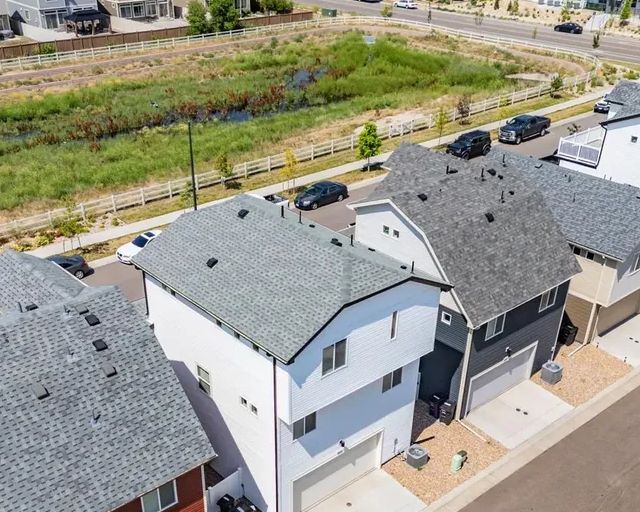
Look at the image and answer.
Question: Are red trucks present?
No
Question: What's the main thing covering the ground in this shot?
buildings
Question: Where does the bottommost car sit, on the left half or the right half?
left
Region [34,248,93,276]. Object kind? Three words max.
car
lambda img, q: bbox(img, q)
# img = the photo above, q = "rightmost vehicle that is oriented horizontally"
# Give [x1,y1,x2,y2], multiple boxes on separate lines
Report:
[546,19,582,33]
